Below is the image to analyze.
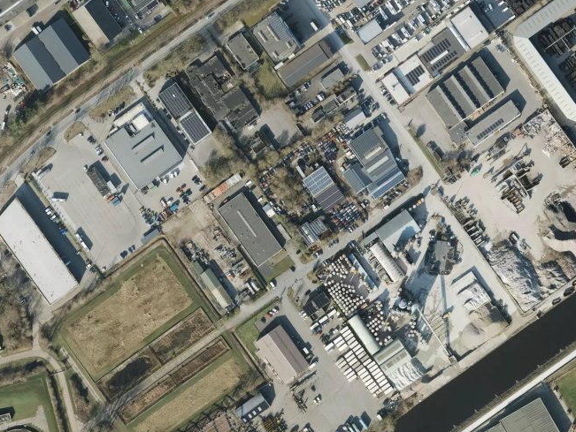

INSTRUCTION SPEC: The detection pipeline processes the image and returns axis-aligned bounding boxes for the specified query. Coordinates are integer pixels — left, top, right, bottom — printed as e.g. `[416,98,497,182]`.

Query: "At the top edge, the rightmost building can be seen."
[474,0,515,34]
